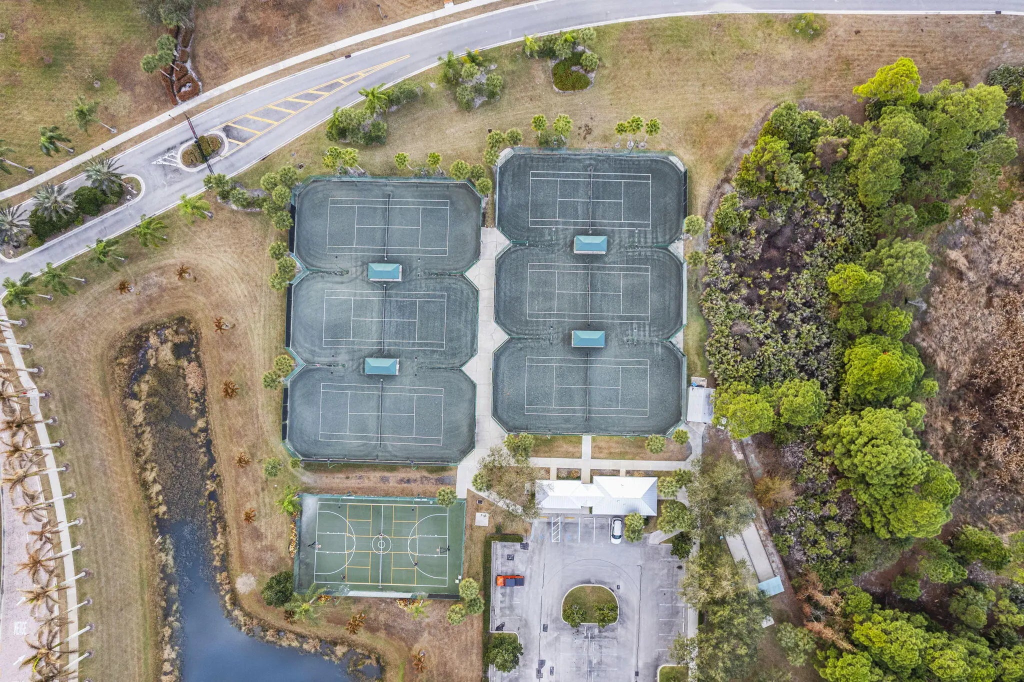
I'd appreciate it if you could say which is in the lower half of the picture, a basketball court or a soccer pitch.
basketball court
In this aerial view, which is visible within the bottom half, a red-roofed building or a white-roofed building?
white-roofed building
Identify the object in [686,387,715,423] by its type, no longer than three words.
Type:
shed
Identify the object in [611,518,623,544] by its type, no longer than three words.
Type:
vehicle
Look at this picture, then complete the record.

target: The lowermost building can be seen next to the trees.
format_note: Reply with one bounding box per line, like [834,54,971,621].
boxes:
[535,476,657,516]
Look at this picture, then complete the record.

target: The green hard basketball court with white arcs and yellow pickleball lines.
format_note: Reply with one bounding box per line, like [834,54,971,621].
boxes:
[297,499,464,594]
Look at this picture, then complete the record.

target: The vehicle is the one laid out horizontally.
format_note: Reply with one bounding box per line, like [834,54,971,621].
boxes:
[496,576,525,589]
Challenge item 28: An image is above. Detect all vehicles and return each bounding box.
[611,518,623,544]
[496,576,525,589]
